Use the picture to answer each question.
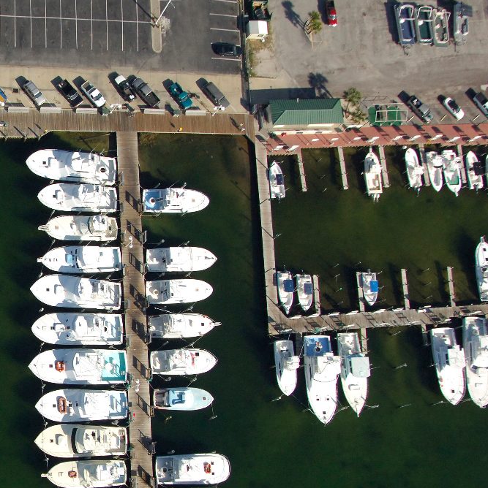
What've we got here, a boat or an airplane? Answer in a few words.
boat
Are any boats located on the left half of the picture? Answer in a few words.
Yes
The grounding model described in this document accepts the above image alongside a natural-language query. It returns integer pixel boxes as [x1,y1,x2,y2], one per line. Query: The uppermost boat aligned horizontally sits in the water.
[26,143,117,186]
